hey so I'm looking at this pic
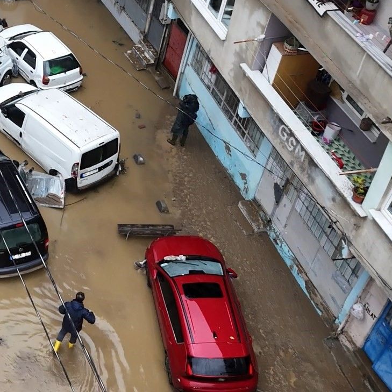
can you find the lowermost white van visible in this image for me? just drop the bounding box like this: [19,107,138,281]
[0,86,119,189]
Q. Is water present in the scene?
Yes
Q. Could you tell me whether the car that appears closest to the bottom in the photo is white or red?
red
